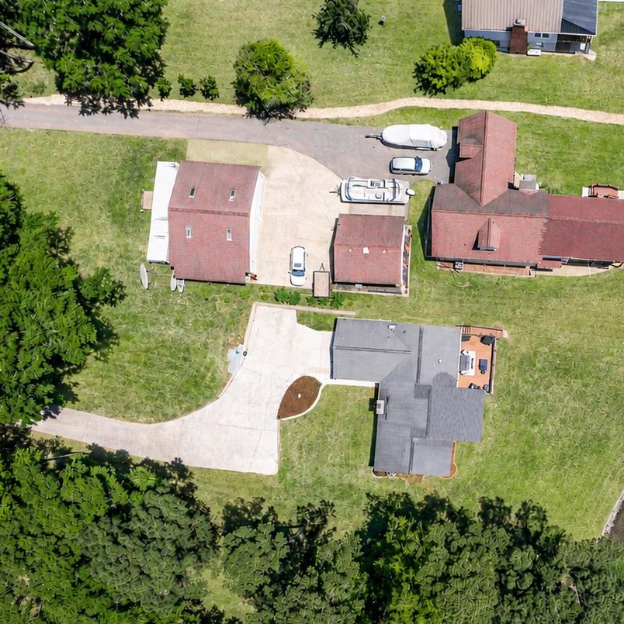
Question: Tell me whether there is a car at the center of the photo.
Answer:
Yes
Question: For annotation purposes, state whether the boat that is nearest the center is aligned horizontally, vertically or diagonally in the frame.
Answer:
horizontally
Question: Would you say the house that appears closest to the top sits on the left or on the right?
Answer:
right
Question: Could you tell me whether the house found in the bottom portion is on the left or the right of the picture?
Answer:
right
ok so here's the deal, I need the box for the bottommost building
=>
[333,318,483,476]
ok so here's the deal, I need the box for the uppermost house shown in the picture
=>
[461,0,598,61]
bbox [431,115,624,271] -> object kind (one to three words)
house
